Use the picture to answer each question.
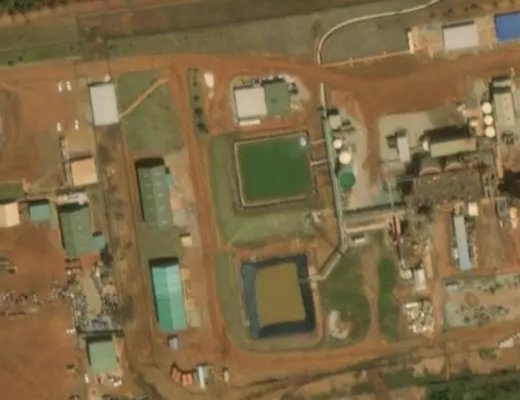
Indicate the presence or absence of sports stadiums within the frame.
No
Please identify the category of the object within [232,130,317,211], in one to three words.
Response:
pond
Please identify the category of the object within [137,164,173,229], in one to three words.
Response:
building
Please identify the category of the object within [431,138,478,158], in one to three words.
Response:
house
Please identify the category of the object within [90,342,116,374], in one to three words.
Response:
shed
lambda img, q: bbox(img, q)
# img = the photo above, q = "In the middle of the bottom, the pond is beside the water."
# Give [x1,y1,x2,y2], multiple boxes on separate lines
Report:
[238,251,318,341]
